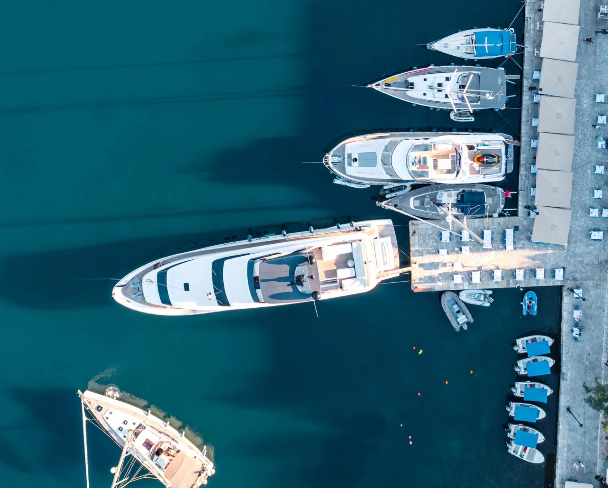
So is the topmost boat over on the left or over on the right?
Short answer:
right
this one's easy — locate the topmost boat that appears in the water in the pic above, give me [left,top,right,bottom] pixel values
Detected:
[418,4,527,69]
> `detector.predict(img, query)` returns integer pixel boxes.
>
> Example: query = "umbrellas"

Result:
[536,133,575,171]
[538,95,576,134]
[542,0,580,24]
[534,169,573,207]
[564,479,593,488]
[540,22,581,61]
[531,206,572,245]
[538,58,578,98]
